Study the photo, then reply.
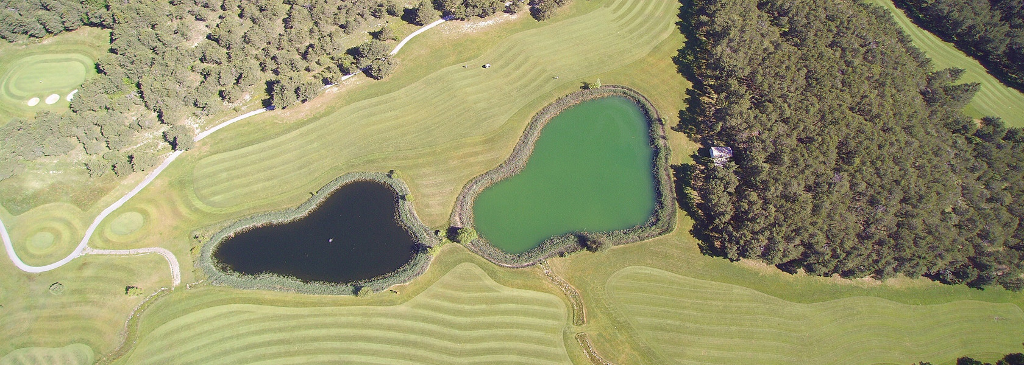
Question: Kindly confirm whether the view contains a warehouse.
No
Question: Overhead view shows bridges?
No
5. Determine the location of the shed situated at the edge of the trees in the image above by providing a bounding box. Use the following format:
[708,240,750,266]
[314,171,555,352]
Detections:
[709,147,733,169]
